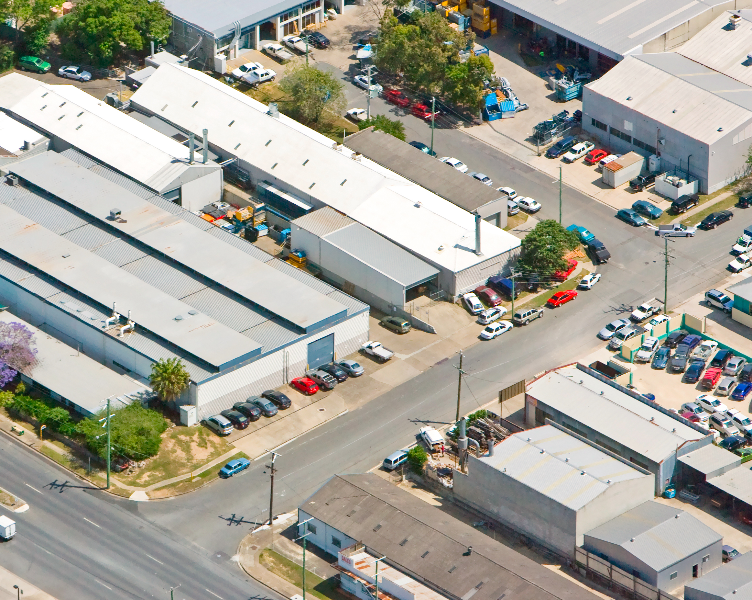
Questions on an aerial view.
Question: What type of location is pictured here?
industrial area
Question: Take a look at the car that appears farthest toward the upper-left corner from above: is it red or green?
green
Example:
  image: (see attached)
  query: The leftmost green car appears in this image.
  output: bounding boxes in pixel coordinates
[20,53,48,74]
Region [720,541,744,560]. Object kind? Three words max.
car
